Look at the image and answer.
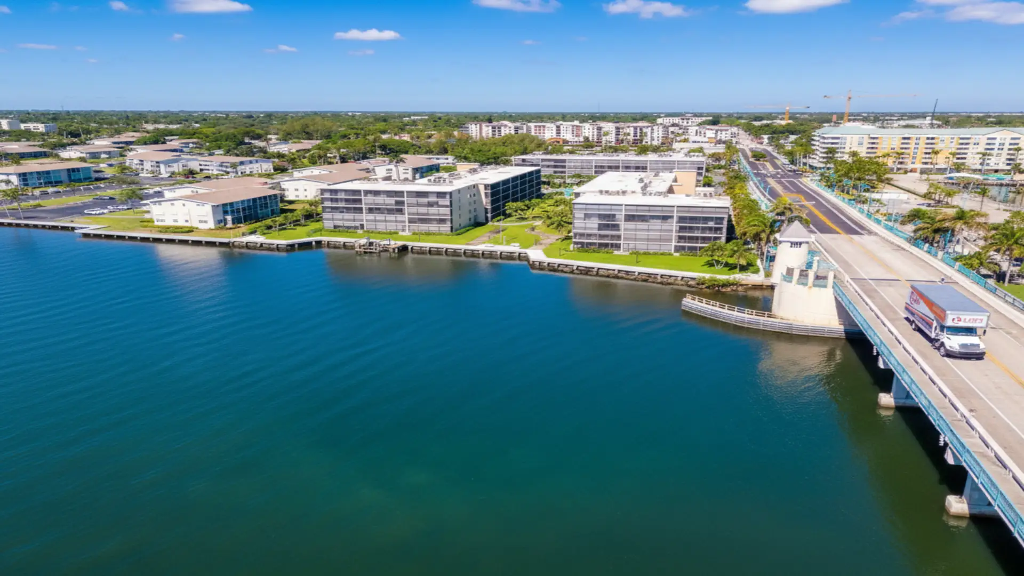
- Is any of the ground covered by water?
Yes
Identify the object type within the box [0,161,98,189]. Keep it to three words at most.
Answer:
house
